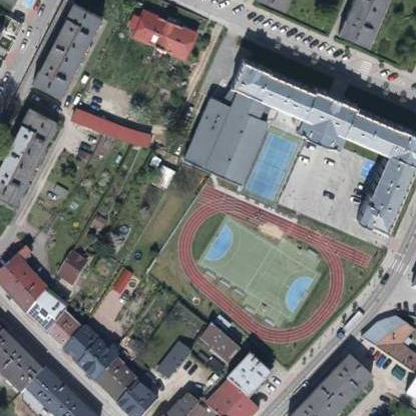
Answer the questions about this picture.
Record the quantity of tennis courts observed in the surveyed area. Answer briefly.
1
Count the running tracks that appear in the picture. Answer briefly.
1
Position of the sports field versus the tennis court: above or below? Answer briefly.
below it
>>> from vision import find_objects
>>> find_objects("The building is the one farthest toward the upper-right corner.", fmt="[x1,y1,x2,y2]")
[340,0,392,48]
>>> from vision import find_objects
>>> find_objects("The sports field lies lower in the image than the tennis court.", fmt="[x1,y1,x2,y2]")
[199,216,320,326]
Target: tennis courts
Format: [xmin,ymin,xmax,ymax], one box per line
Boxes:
[240,128,303,206]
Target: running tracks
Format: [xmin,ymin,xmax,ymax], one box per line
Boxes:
[179,183,371,343]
